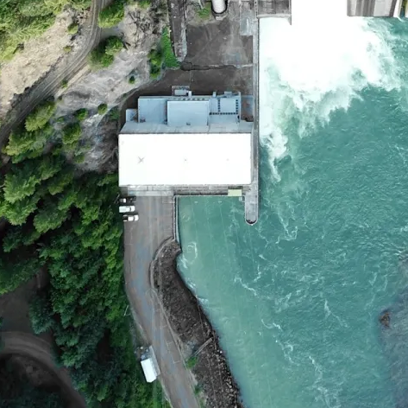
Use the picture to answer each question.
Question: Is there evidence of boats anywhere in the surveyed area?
No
